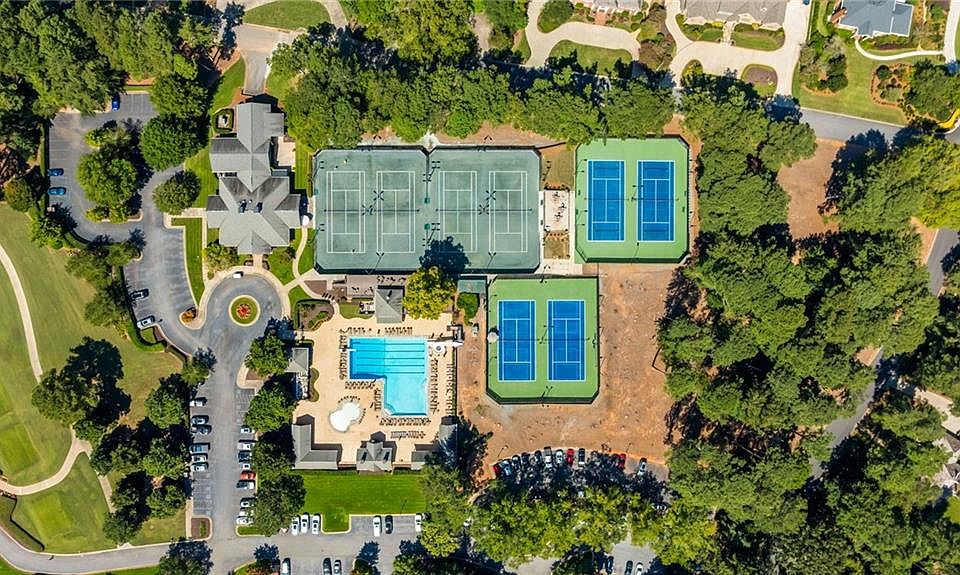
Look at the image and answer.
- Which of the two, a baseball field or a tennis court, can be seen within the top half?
tennis court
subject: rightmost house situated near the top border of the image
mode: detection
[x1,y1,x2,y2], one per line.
[826,0,914,40]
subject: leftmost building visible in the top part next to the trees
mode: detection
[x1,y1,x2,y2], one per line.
[202,100,304,254]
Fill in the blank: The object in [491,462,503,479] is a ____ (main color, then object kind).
red vehicle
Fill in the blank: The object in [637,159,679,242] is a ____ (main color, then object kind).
blue tennis court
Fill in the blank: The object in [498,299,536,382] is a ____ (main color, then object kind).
blue tennis court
